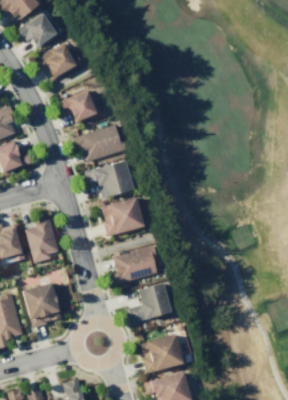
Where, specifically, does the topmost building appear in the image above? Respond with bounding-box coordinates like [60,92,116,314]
[2,0,38,19]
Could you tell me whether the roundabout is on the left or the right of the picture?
left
